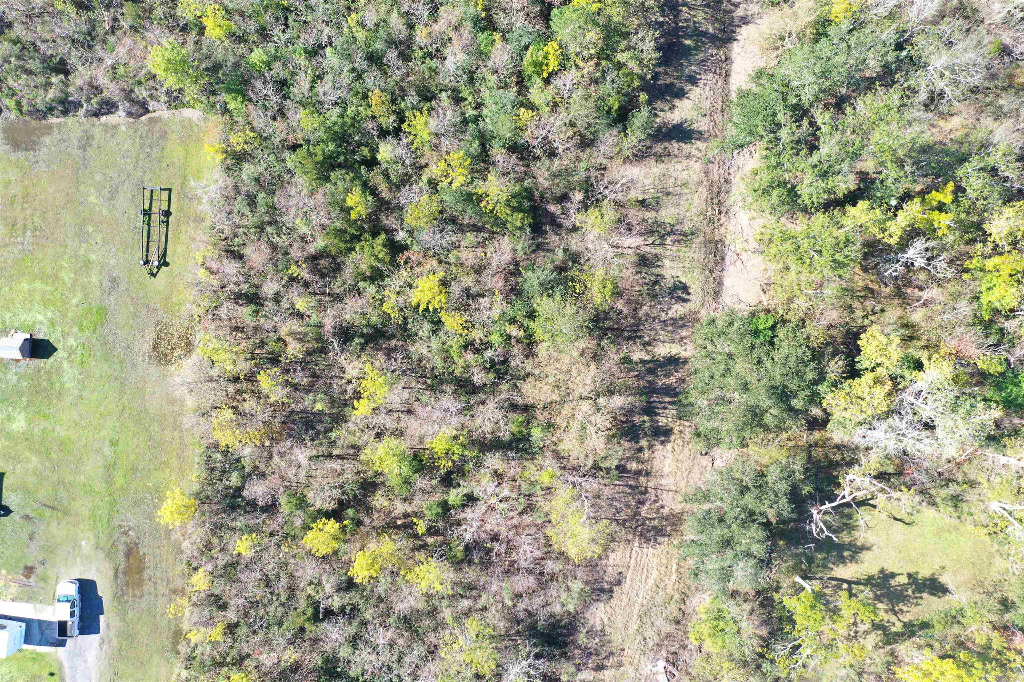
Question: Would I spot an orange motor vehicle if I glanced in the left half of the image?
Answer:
No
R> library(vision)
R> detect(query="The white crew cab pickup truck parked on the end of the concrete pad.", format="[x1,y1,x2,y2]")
[53,577,83,638]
